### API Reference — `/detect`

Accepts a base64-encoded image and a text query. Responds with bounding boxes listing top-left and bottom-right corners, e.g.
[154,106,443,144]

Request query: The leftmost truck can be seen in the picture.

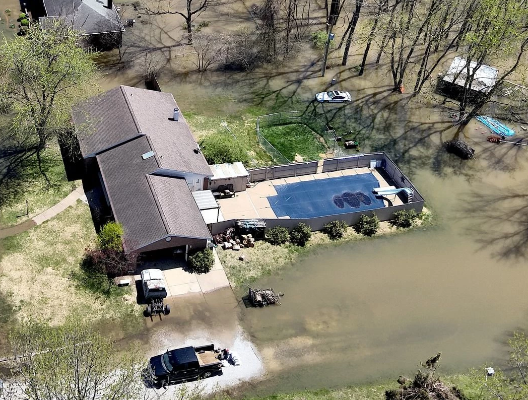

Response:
[134,267,175,343]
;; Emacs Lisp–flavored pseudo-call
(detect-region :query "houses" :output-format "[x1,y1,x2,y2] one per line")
[72,84,213,264]
[33,0,127,56]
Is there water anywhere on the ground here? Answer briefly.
Yes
